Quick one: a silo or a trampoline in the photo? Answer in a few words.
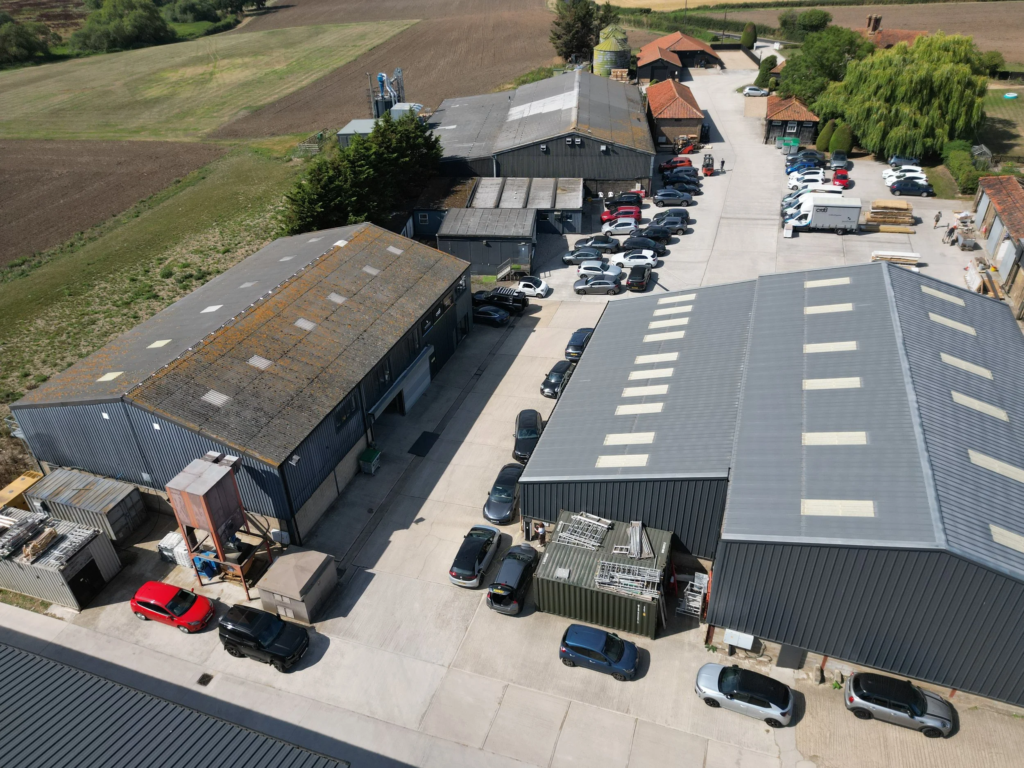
silo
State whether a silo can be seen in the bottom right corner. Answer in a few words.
No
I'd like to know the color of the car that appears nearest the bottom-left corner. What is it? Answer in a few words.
red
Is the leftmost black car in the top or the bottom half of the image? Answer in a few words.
bottom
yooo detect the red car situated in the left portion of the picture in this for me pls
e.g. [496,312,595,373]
[126,578,216,634]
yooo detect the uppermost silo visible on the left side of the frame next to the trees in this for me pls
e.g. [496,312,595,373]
[363,56,404,117]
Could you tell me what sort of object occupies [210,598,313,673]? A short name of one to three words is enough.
car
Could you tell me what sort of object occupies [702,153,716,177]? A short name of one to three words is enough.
work vehicle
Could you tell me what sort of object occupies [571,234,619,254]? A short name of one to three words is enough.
car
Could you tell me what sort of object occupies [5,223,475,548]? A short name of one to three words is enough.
shed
